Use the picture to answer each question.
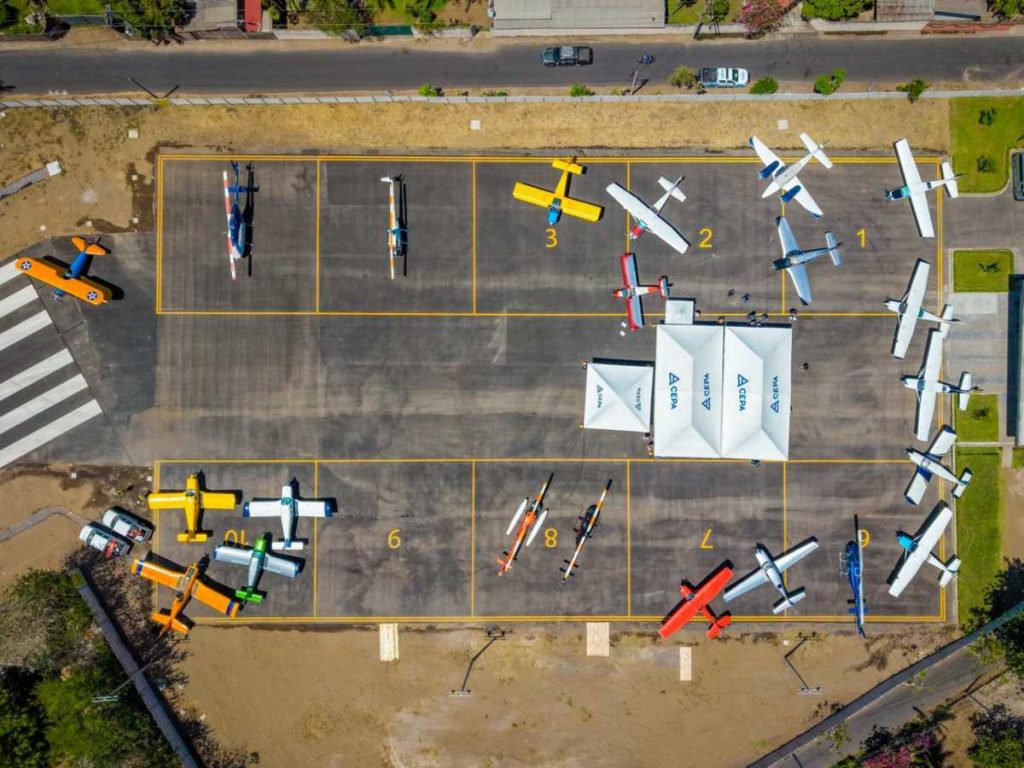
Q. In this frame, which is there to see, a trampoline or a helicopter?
helicopter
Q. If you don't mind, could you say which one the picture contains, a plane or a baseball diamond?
plane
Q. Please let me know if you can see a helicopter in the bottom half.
Yes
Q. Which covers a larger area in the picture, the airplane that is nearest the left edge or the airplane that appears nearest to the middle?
the airplane that is nearest the left edge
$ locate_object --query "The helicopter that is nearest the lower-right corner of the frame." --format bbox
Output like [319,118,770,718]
[839,530,871,642]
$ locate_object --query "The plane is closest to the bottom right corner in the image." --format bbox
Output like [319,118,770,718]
[889,508,961,596]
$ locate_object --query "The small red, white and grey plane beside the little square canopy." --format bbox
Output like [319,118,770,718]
[613,254,669,330]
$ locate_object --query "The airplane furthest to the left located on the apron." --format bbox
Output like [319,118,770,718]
[16,236,115,304]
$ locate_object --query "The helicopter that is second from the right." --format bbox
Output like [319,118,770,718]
[560,489,607,589]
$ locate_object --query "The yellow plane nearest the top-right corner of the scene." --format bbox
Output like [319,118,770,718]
[513,160,601,224]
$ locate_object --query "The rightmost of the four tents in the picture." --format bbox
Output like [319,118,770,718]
[721,326,792,460]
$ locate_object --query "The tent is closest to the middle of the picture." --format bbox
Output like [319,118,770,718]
[584,364,654,432]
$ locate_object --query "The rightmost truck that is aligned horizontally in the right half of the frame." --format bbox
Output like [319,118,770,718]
[697,65,749,90]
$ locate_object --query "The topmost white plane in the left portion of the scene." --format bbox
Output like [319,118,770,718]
[242,485,332,553]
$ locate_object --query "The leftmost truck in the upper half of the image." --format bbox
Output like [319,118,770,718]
[541,44,593,69]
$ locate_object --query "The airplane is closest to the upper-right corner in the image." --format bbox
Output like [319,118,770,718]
[883,140,962,238]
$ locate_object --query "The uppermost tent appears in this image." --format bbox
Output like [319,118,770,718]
[662,300,694,326]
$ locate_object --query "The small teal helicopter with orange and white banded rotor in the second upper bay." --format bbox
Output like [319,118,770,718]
[381,173,409,280]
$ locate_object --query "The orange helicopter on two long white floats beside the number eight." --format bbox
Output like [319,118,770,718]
[495,482,548,582]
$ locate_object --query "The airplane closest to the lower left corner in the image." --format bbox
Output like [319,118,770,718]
[130,559,237,632]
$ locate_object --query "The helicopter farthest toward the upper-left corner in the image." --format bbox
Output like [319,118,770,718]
[225,151,255,280]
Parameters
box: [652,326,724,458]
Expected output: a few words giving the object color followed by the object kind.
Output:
white tent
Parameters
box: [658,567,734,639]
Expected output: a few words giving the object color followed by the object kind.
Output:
red airplane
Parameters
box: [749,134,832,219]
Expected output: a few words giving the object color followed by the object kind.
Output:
white airplane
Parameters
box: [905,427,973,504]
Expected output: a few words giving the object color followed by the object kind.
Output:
white airplane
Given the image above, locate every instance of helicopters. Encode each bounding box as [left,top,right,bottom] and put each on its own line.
[225,151,255,280]
[839,530,871,642]
[495,482,548,582]
[381,173,409,280]
[560,489,607,589]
